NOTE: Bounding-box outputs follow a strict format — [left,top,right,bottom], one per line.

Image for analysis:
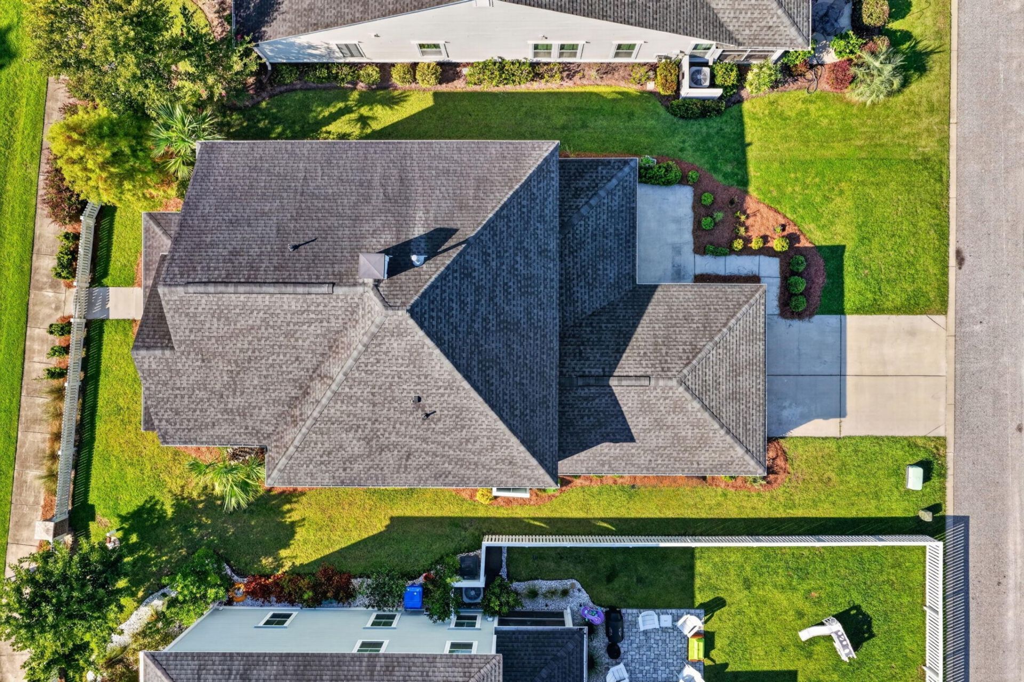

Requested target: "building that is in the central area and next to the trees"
[132,139,769,488]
